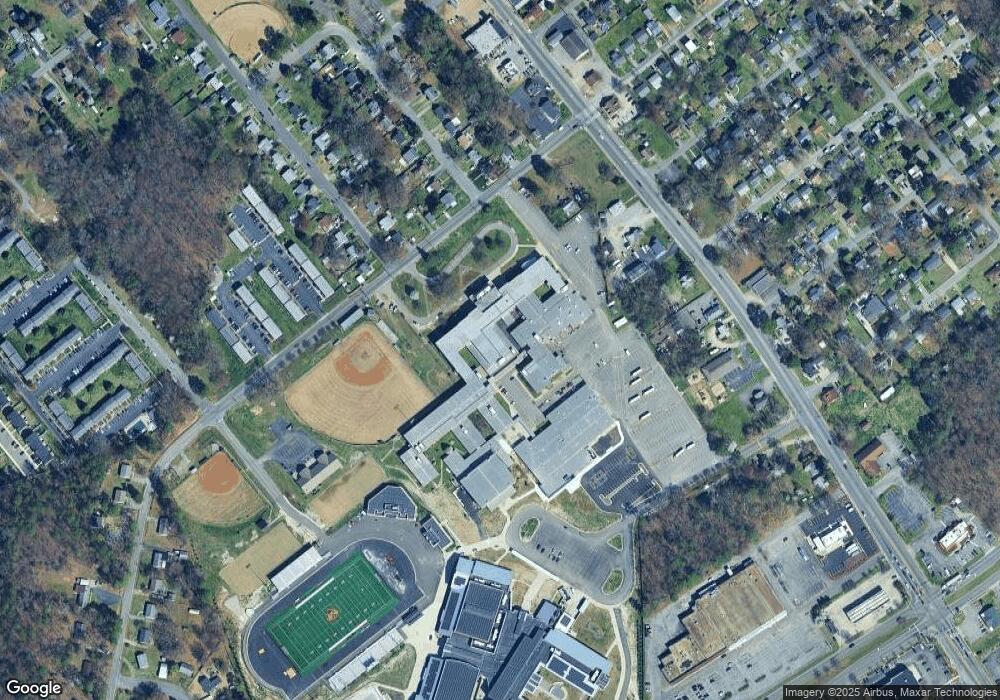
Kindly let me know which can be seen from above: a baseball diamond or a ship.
baseball diamond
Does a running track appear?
Yes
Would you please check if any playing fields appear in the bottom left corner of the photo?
Yes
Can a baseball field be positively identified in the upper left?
Yes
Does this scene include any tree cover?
Yes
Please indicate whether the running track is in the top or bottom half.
bottom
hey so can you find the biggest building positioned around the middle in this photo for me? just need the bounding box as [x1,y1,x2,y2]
[399,255,618,523]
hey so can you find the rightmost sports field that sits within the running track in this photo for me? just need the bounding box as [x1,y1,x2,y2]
[266,553,399,676]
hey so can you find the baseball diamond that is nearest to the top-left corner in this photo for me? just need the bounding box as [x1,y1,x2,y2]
[190,0,292,64]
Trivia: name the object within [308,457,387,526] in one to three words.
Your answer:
sports field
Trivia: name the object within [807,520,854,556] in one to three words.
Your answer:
building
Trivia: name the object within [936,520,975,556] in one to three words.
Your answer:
building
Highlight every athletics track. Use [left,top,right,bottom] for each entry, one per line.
[244,538,425,698]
